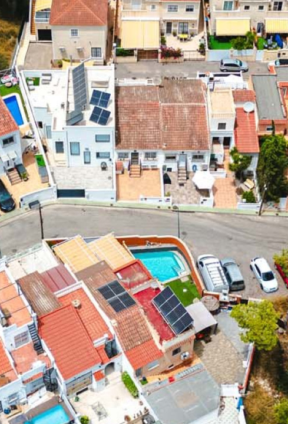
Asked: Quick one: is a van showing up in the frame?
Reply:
Yes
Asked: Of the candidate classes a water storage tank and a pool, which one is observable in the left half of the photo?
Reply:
pool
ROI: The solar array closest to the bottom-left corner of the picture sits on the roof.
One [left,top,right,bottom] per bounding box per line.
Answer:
[97,280,137,313]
